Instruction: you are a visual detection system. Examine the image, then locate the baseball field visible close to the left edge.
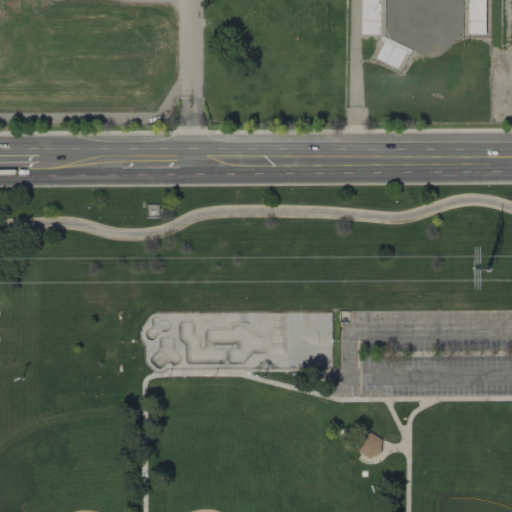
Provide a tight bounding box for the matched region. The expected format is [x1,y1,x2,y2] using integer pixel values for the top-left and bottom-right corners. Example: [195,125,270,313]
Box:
[0,408,141,512]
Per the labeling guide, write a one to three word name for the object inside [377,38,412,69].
shed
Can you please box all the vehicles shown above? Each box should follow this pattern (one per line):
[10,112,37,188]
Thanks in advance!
[488,150,500,156]
[0,143,10,148]
[0,169,31,176]
[309,146,320,151]
[386,144,396,149]
[148,115,161,123]
[56,155,66,160]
